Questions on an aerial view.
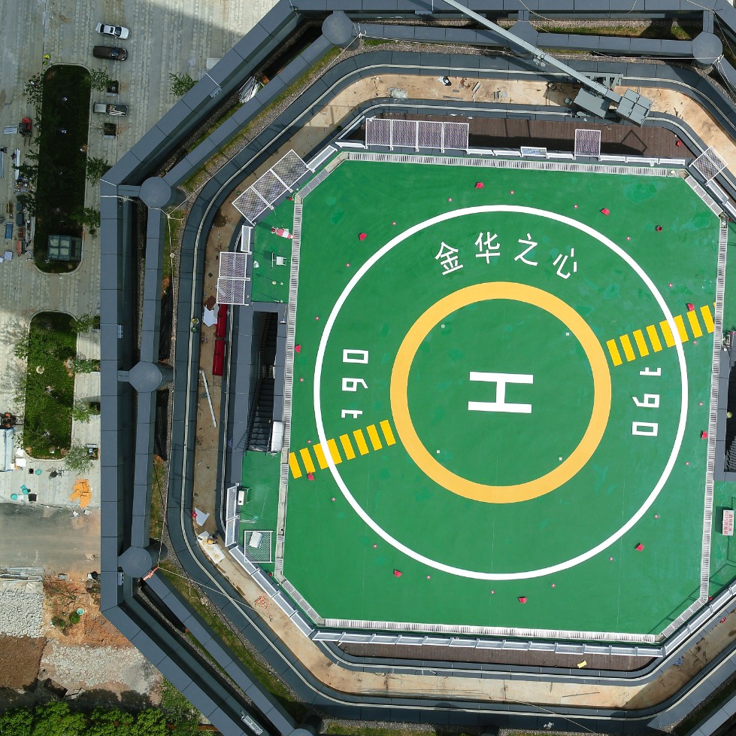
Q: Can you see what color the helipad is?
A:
green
